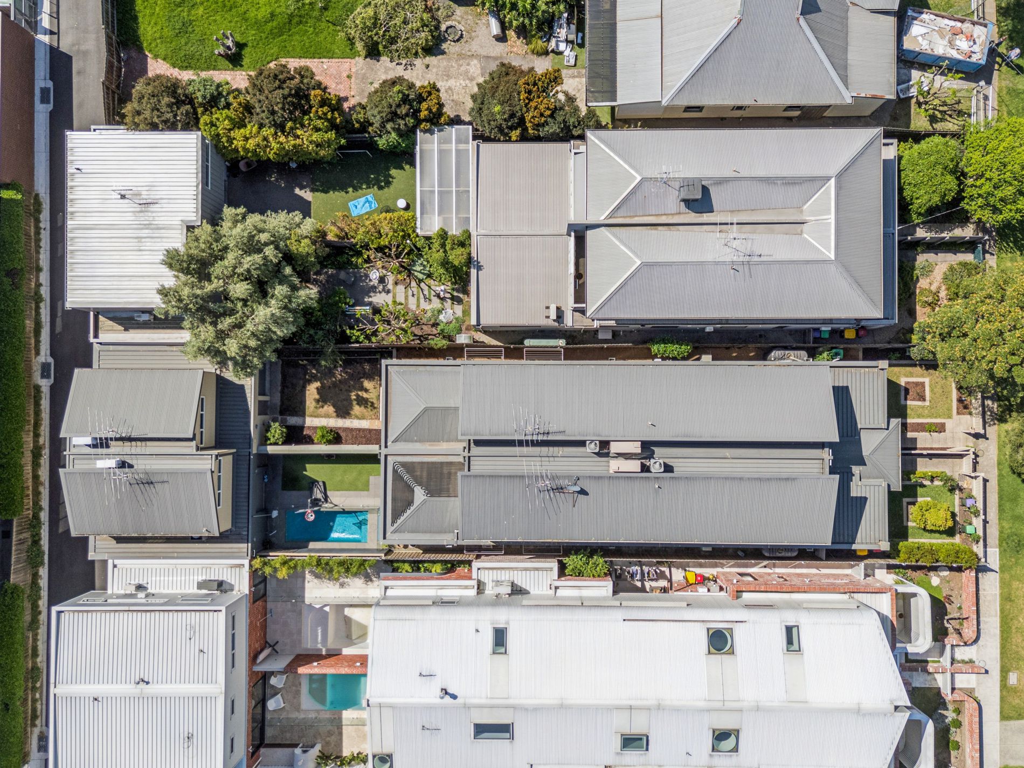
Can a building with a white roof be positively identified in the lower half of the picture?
Yes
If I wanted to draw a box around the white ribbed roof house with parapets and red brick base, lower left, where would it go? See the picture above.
[50,553,267,768]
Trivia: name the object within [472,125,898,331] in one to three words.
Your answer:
house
